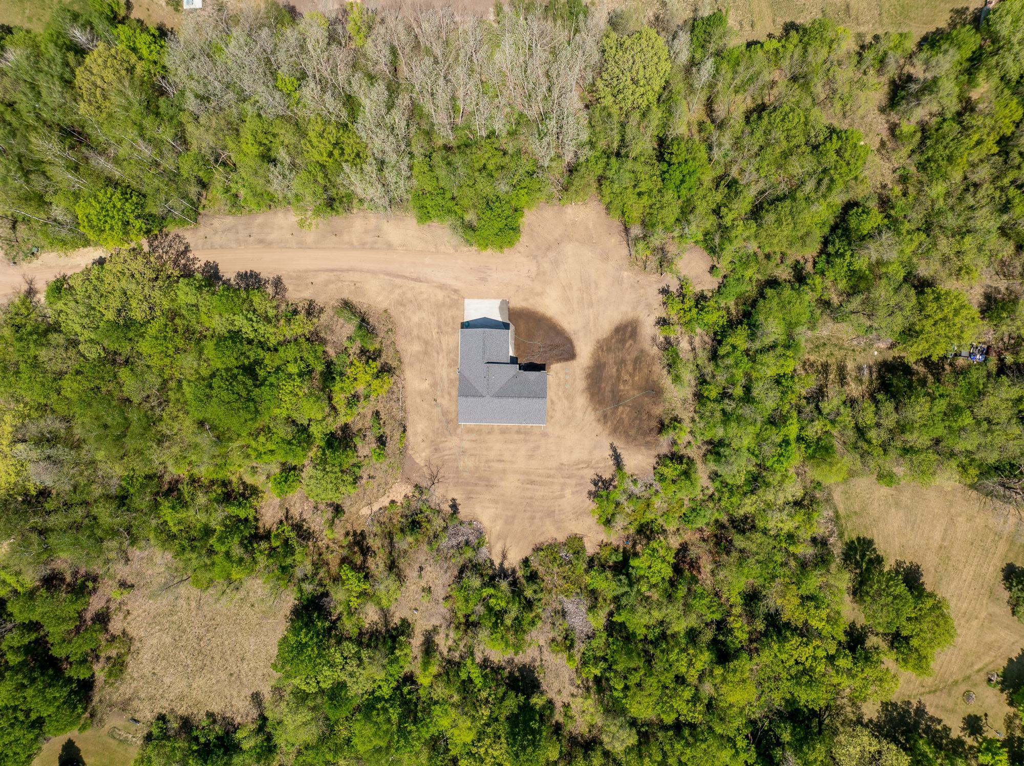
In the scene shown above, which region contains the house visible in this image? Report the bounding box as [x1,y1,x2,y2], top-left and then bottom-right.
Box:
[458,328,548,428]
